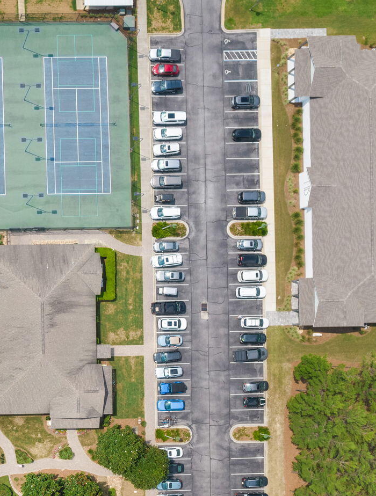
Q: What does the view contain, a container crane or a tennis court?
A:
tennis court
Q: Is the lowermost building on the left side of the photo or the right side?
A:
left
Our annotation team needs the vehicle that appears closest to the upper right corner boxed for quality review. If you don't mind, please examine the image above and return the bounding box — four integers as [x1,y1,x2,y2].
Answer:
[230,96,259,110]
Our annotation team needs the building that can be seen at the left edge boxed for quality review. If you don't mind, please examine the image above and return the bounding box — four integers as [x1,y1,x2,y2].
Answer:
[0,244,113,428]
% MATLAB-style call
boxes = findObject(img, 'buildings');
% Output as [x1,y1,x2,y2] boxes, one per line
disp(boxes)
[82,0,133,14]
[286,34,376,326]
[0,244,113,428]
